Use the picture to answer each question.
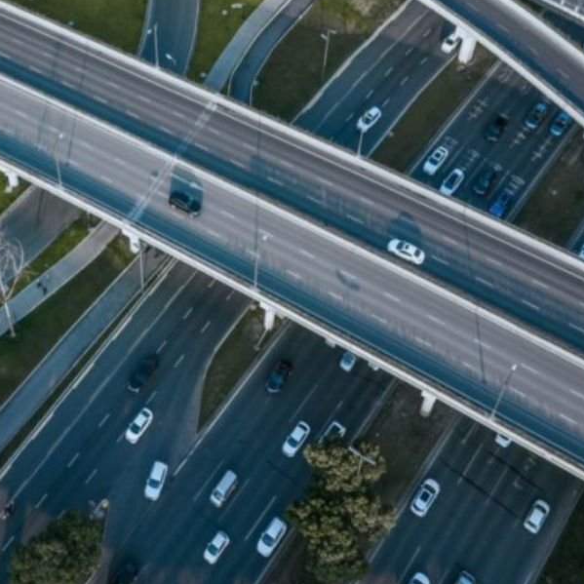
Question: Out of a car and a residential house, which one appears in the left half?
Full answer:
It is a car that can be seen in the left half.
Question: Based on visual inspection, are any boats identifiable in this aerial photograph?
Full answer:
No, there isn't any boat down there.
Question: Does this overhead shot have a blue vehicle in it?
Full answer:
Yes, a blue vehicle appears in the view.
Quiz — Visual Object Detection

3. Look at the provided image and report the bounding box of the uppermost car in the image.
[440,32,463,54]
